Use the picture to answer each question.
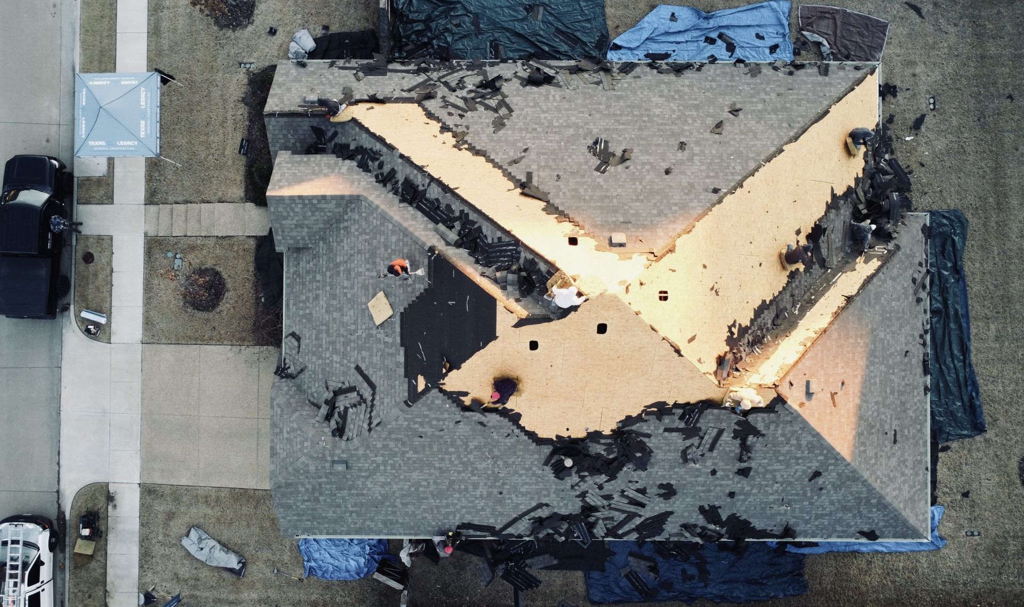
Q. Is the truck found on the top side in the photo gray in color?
No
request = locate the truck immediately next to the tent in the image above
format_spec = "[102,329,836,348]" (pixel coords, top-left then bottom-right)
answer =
[0,152,77,319]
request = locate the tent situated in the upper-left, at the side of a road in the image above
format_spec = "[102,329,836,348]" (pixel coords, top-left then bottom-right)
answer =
[75,69,186,168]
